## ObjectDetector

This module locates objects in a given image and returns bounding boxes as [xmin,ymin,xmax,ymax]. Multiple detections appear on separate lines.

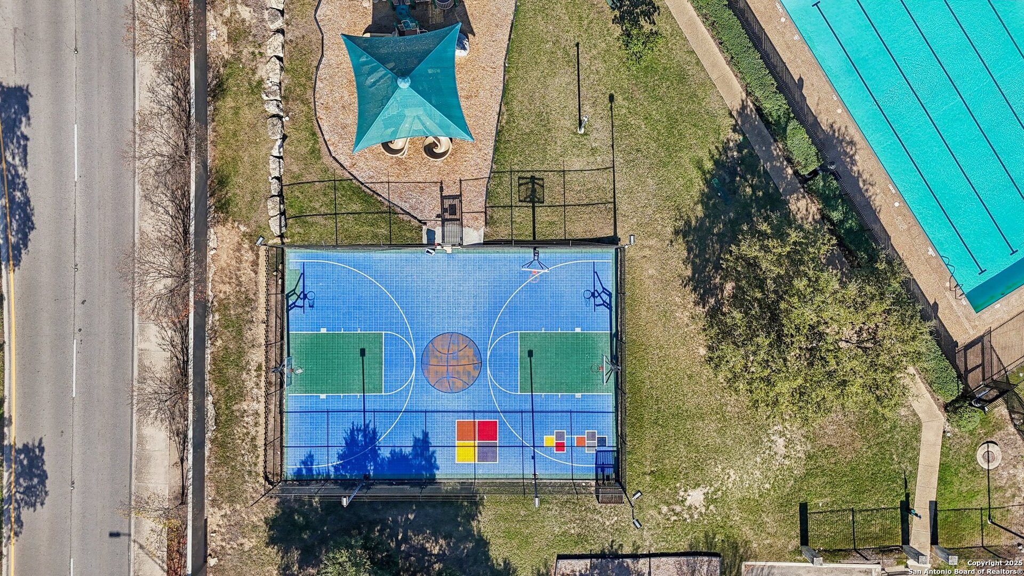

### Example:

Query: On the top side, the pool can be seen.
[774,0,1024,321]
